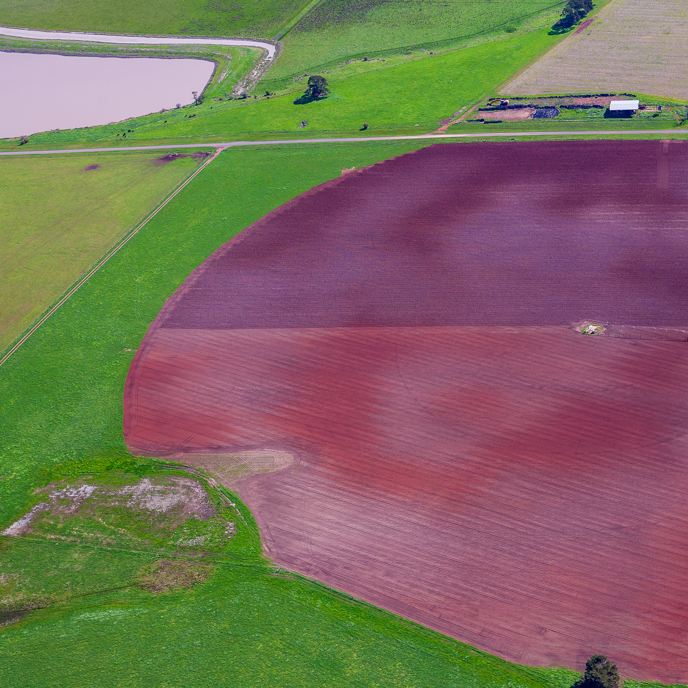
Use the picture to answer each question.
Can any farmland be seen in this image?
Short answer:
Yes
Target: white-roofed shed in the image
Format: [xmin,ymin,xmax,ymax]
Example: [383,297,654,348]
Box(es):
[610,99,640,116]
